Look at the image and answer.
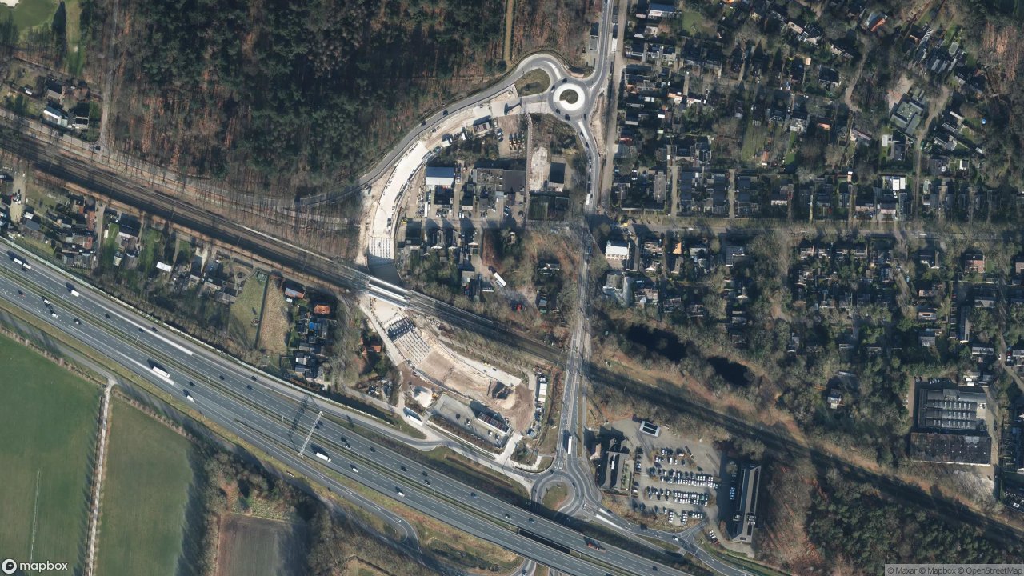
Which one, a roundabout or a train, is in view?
roundabout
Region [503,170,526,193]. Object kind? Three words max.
building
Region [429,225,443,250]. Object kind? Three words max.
house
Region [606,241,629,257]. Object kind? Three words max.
building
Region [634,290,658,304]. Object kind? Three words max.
house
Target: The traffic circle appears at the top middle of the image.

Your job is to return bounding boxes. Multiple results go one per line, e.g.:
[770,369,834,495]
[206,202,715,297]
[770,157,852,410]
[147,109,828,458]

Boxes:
[548,76,590,118]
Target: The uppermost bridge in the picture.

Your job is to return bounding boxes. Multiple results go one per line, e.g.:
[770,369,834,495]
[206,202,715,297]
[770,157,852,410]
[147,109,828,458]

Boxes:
[365,275,409,311]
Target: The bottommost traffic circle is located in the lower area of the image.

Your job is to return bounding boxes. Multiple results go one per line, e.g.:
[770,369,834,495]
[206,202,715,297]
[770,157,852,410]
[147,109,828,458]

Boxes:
[532,469,581,520]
